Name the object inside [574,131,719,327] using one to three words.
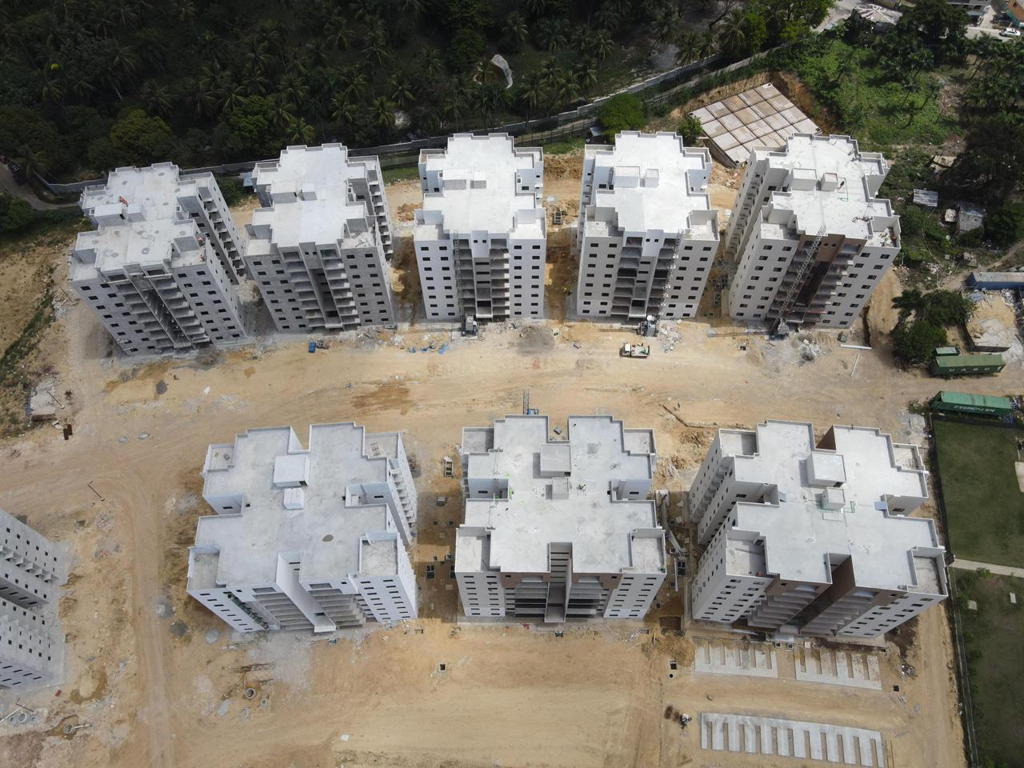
building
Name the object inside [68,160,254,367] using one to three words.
building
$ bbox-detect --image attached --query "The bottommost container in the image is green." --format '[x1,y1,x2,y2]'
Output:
[935,390,1011,416]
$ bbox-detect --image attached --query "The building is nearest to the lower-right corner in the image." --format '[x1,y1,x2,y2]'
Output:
[684,421,951,654]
